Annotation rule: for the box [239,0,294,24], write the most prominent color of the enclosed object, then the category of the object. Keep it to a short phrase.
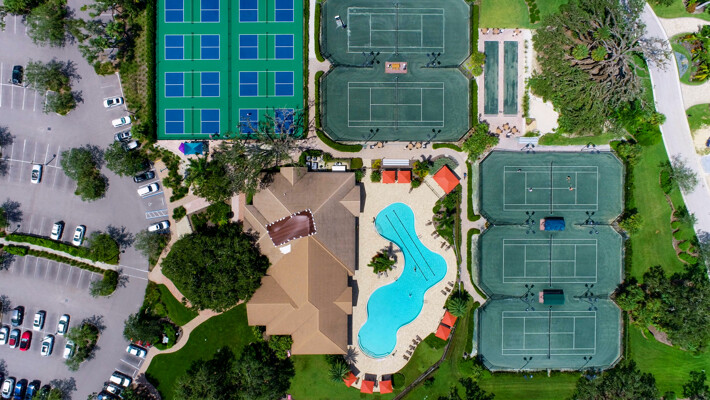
blue sports court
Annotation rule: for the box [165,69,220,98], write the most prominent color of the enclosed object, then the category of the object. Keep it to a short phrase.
blue sports court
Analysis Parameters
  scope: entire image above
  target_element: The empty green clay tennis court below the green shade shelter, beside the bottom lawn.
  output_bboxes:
[479,297,621,370]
